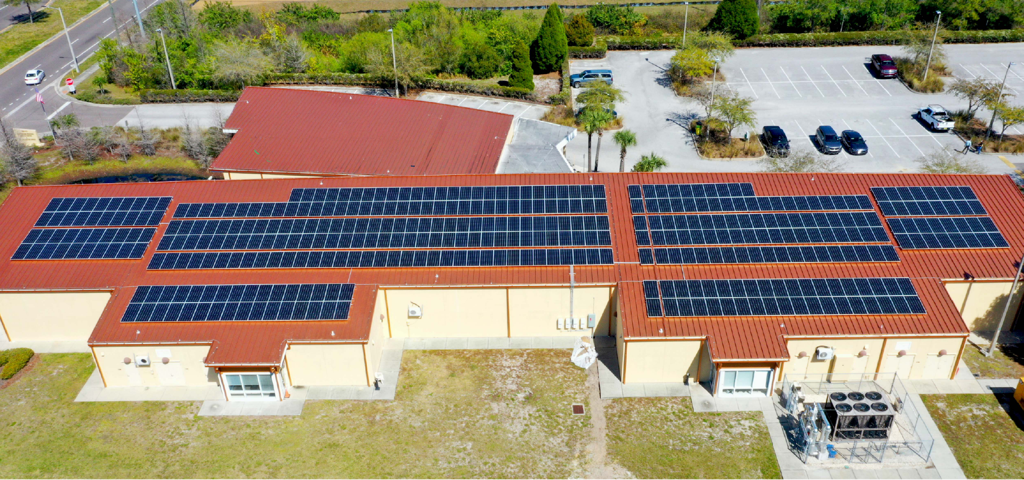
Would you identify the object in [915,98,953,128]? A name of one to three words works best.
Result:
truck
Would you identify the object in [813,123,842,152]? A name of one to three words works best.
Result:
car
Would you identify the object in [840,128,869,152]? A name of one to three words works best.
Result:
car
